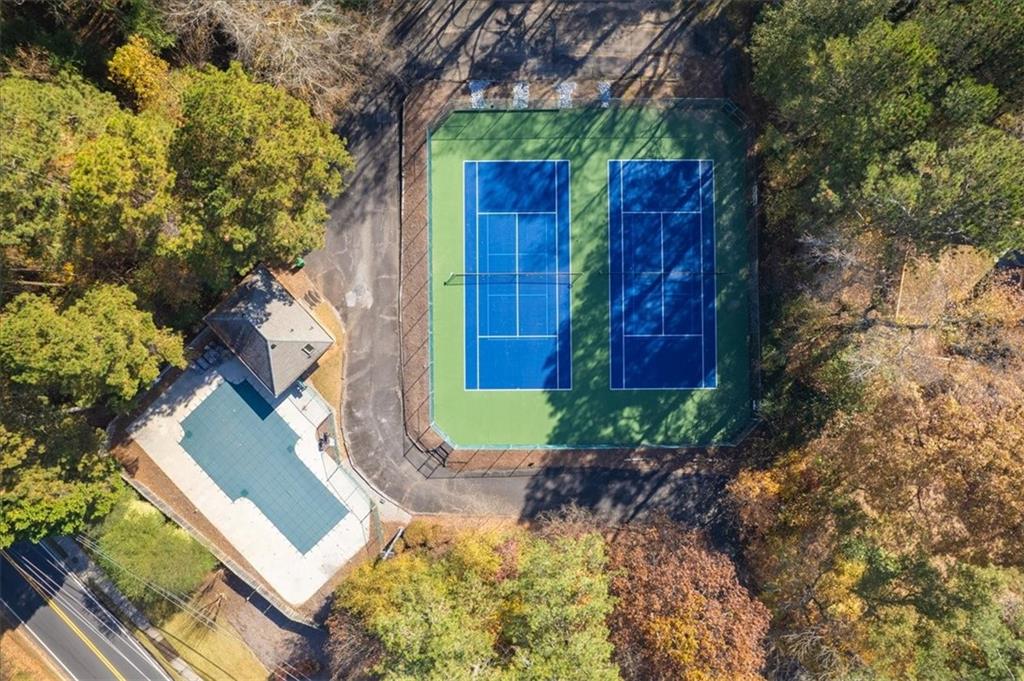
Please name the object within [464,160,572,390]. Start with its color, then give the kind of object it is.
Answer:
blue tennis court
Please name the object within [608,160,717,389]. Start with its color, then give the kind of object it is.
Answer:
blue tennis court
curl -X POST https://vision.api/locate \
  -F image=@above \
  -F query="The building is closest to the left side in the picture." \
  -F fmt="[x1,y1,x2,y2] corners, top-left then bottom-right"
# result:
[202,263,336,397]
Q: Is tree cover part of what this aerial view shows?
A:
Yes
